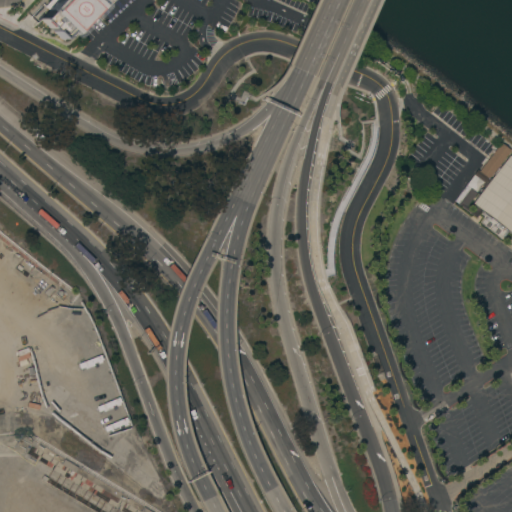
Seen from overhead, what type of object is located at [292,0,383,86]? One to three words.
bridge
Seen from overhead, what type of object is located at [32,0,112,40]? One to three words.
building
